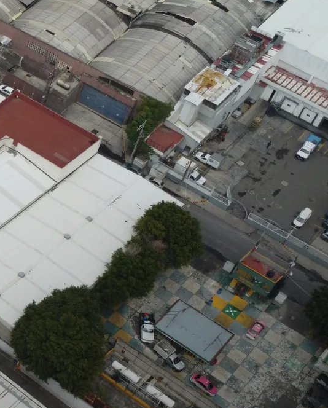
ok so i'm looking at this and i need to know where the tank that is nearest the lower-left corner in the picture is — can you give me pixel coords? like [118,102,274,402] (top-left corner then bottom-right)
[105,362,138,392]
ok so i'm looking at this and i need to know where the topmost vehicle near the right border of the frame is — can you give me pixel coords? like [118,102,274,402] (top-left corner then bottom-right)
[295,135,325,159]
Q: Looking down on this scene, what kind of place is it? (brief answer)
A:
industrial area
